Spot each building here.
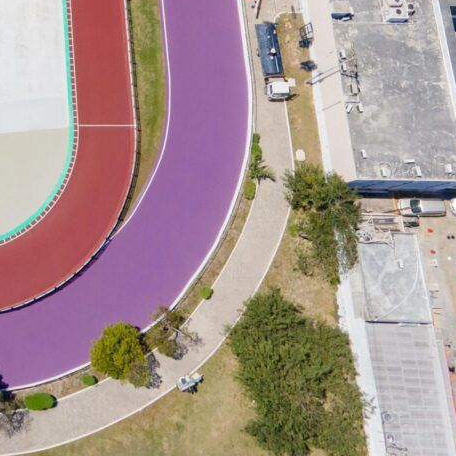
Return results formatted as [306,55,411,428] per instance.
[342,232,456,456]
[308,0,456,195]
